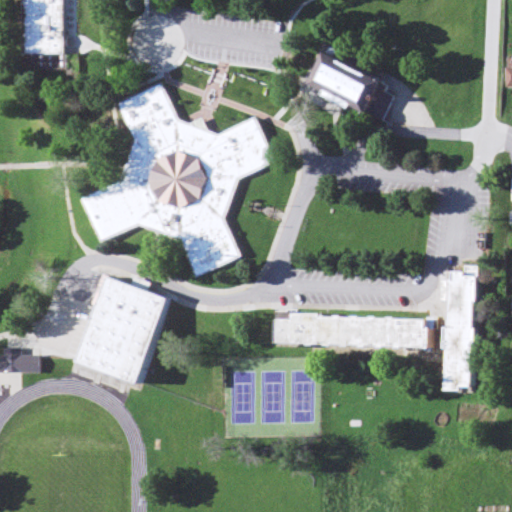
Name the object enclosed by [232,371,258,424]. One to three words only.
tennis court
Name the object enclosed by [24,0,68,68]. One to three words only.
building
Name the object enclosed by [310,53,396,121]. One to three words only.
house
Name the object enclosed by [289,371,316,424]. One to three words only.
tennis court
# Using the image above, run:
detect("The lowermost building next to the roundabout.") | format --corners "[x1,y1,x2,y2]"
[81,85,270,276]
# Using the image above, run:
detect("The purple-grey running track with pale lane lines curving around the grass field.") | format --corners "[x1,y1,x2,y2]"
[0,378,148,512]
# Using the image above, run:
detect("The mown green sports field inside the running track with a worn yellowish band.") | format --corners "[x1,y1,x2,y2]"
[0,396,131,512]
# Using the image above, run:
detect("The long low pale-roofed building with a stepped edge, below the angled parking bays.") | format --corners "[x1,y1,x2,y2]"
[274,313,429,349]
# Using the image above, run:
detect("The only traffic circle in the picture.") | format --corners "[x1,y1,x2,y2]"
[128,14,186,72]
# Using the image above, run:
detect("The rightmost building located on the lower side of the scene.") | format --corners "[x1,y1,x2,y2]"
[440,265,482,393]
